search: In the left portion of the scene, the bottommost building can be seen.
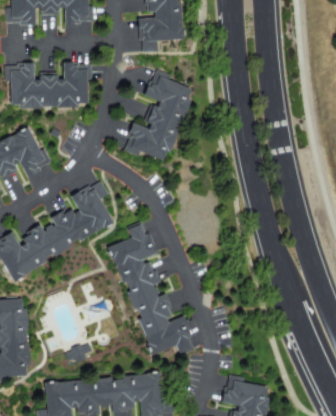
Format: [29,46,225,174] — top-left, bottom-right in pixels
[41,376,170,416]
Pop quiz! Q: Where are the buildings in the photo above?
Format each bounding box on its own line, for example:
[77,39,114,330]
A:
[0,126,53,178]
[112,231,195,352]
[222,374,268,416]
[139,0,184,48]
[0,184,112,279]
[41,376,170,416]
[0,298,31,376]
[67,339,91,359]
[126,68,193,160]
[6,0,89,22]
[4,62,92,106]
